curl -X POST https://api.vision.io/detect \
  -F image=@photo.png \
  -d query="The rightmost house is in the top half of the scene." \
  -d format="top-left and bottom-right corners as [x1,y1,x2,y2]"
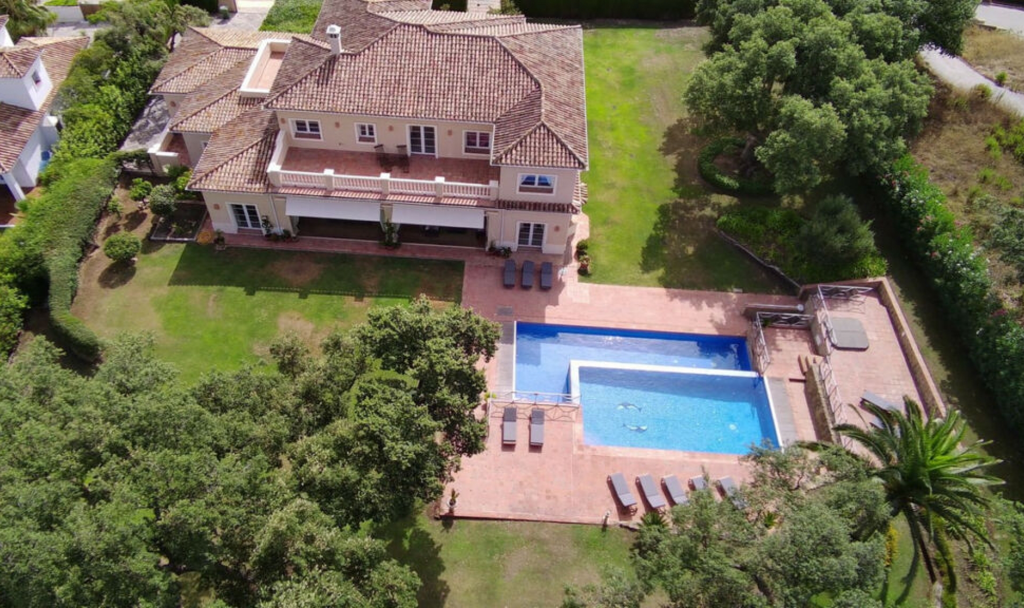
[147,0,591,254]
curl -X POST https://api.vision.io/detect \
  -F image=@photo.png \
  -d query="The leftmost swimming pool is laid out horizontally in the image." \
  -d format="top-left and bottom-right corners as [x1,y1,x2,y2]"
[510,322,785,455]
